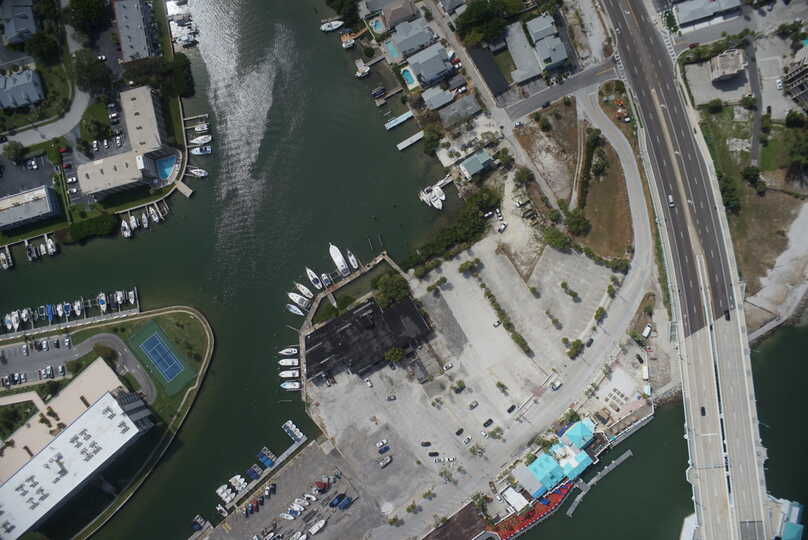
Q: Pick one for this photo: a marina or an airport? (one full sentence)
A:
This looks like a marina.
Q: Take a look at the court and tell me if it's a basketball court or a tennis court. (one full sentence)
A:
In the photo, the court shows up as a tennis court.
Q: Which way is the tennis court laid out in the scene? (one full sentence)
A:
The tennis court has been laid out at an angle relative to the frame.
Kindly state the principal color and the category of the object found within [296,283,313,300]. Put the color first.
white boat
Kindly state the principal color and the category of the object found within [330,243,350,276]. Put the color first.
white boat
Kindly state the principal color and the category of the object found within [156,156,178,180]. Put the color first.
blue swimming pool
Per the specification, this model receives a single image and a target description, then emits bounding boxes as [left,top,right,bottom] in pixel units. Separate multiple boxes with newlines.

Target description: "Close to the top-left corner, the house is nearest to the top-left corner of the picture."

[2,0,41,44]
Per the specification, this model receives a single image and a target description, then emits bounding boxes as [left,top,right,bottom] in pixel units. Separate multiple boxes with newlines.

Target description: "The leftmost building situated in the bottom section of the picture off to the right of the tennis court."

[306,302,389,380]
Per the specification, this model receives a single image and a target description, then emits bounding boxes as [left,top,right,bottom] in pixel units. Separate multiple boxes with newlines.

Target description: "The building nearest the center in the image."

[372,298,431,348]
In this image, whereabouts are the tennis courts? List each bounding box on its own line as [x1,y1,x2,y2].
[129,320,196,393]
